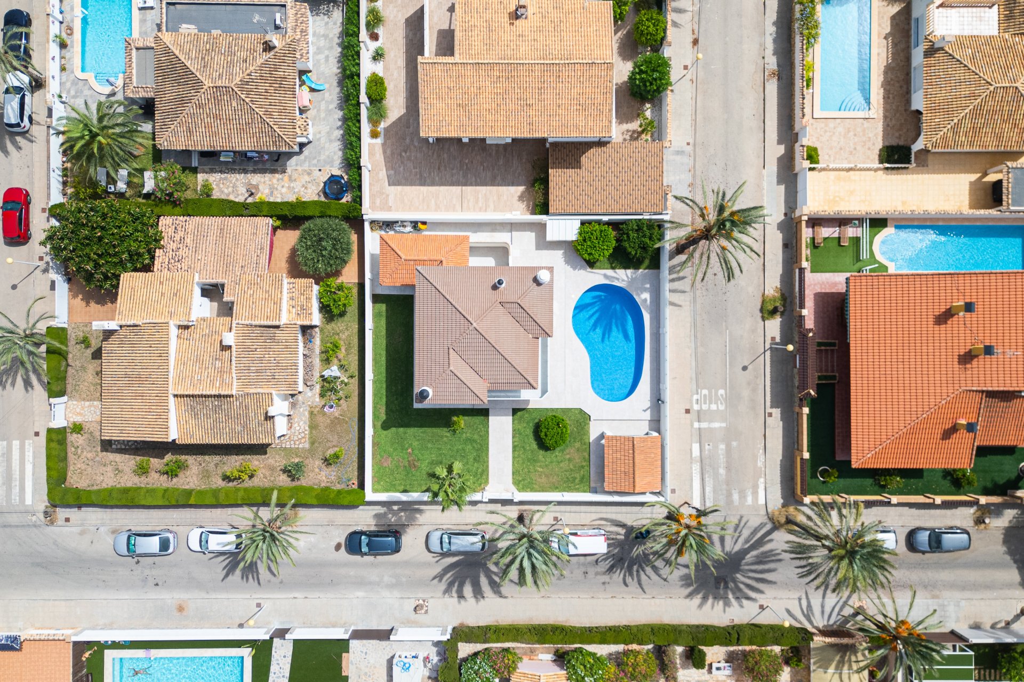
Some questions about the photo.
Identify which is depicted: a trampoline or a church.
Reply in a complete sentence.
I can see a trampoline in this picture.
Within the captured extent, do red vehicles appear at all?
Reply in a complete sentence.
Yes, there's a red vehicle here.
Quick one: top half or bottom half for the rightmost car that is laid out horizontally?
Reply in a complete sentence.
The rightmost car that is laid out horizontally sits in the bottom half of the picture.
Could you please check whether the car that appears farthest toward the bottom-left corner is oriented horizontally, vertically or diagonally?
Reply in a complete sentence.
From this overhead view, the car that appears farthest toward the bottom-left corner appears to run horizontally.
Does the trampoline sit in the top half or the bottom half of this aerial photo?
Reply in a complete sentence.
It is in the top half that the trampoline appears.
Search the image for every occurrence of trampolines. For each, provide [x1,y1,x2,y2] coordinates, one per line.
[319,172,345,201]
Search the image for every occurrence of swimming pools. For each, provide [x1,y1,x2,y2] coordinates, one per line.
[572,284,645,401]
[872,218,1024,272]
[74,0,139,95]
[813,0,877,118]
[104,648,252,682]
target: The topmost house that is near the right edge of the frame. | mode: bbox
[911,0,1024,151]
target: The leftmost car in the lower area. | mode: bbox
[115,527,179,559]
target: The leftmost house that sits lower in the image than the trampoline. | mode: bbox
[93,216,331,444]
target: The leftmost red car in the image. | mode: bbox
[0,189,36,245]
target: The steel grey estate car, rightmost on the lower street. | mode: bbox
[906,525,971,556]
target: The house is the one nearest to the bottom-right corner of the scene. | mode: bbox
[841,269,1024,469]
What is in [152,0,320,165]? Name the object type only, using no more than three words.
house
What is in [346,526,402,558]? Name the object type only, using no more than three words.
car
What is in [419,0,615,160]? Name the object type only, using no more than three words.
house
